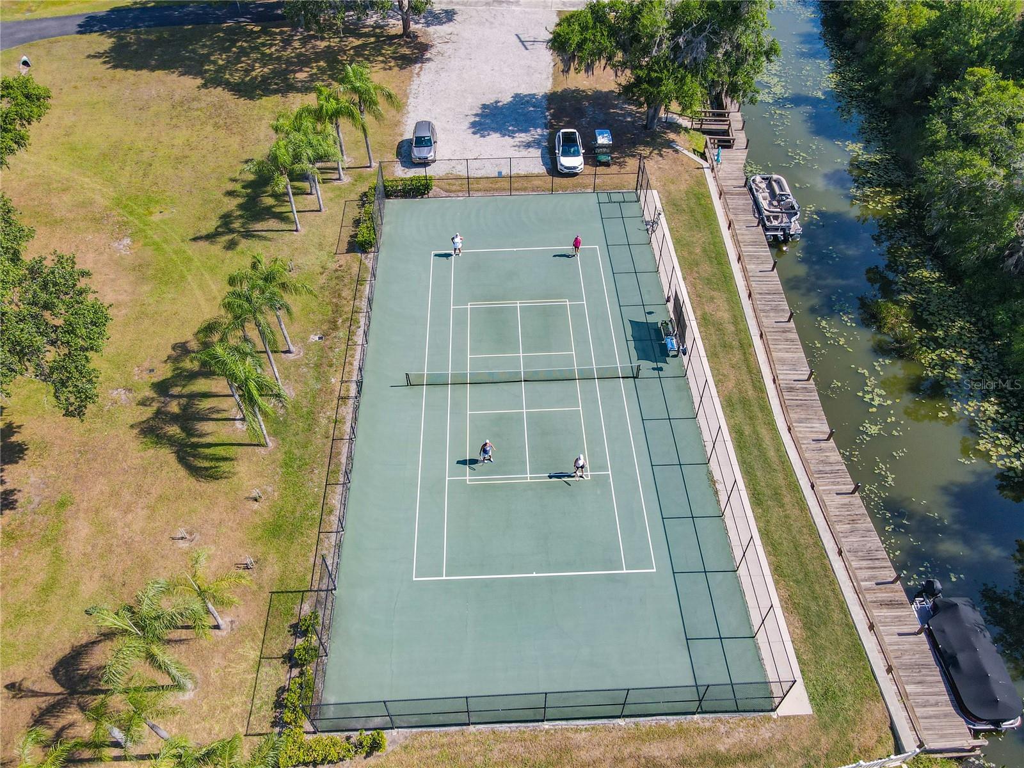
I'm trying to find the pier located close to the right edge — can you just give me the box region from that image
[703,82,991,763]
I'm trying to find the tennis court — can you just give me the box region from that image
[308,189,776,739]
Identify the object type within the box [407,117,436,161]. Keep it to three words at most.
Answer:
car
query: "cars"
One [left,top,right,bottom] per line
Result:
[407,117,436,161]
[554,125,586,173]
